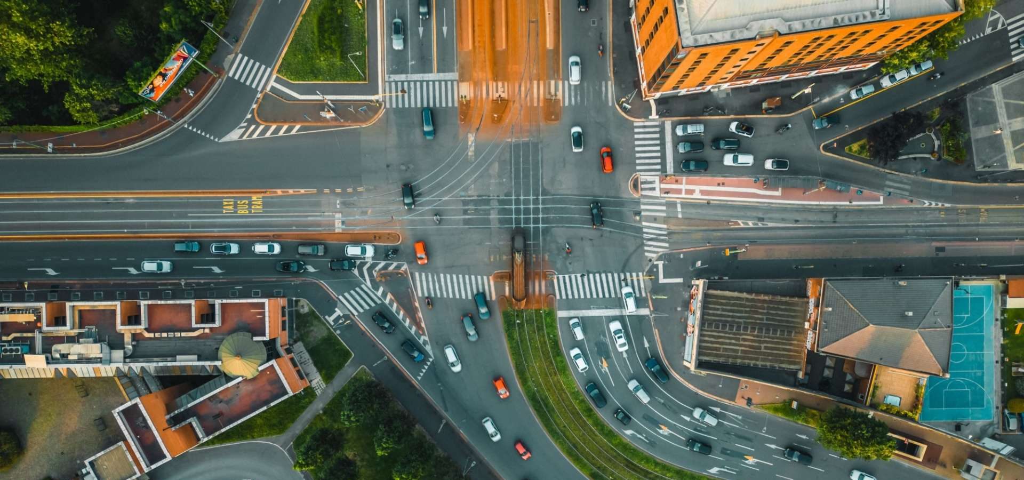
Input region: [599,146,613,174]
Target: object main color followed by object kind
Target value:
red car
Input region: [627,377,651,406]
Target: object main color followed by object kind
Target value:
white car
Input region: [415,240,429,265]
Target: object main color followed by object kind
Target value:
orange car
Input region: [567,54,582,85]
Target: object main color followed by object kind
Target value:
white car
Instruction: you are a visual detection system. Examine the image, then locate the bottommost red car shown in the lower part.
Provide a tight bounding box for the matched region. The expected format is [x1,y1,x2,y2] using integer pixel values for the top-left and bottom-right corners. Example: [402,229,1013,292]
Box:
[513,438,533,463]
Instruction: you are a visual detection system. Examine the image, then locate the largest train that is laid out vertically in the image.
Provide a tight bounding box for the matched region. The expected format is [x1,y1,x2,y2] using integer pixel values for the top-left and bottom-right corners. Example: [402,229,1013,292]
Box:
[511,232,526,310]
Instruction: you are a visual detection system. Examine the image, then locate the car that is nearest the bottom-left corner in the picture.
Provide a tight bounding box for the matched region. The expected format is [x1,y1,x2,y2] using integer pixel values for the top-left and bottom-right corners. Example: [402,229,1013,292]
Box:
[141,259,174,273]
